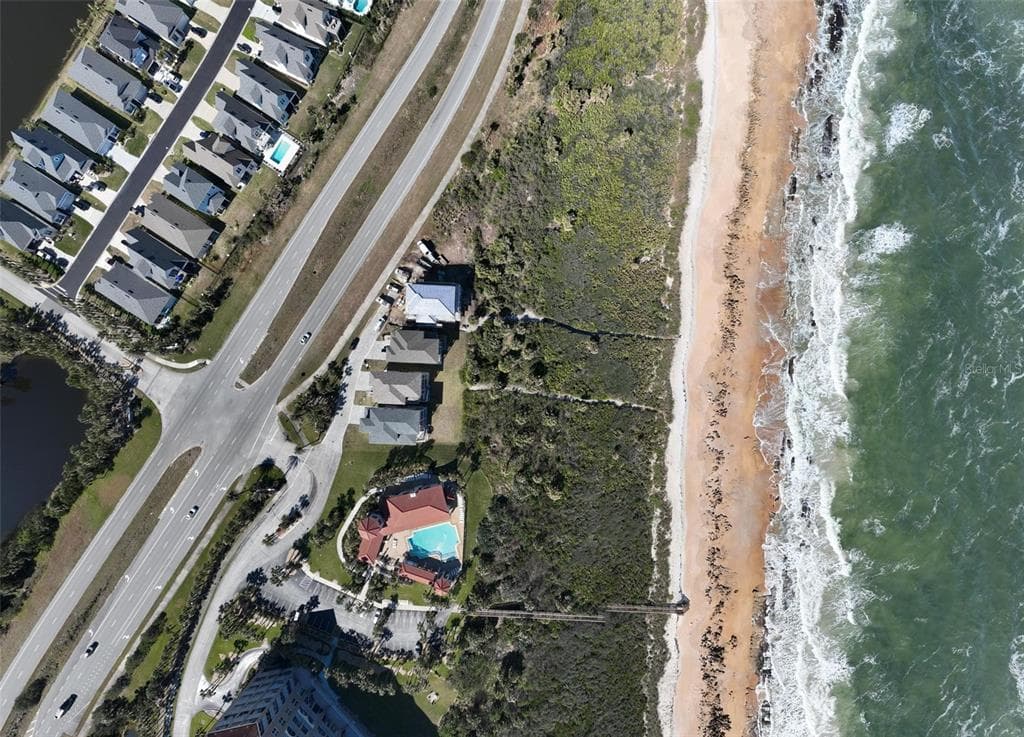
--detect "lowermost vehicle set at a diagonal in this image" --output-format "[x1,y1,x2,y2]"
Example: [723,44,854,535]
[55,697,73,718]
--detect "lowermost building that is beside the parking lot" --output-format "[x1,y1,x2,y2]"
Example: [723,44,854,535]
[203,670,357,737]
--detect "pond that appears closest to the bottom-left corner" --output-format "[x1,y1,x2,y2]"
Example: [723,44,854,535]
[0,355,86,536]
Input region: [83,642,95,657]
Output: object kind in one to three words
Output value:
vehicle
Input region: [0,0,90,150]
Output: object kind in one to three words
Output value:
pond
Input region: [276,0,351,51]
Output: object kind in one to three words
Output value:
house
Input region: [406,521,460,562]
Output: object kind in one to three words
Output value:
swimming pool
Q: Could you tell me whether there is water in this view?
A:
Yes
